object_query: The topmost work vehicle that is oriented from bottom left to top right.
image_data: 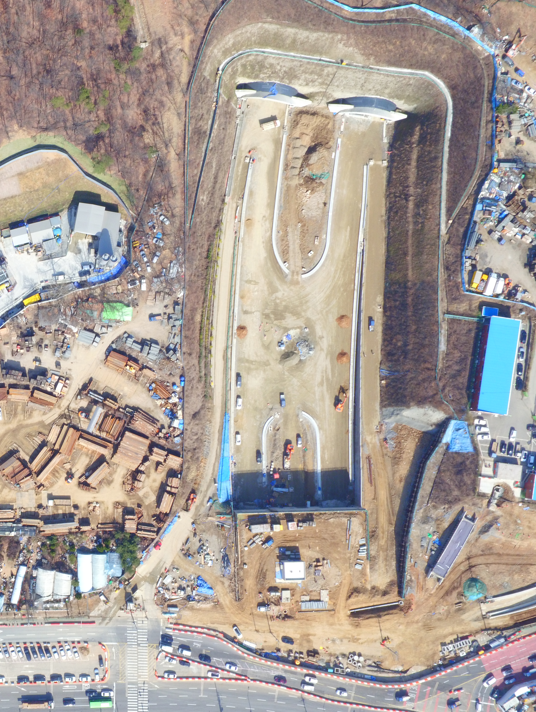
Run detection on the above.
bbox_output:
[506,41,524,57]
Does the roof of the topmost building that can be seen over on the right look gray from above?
No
